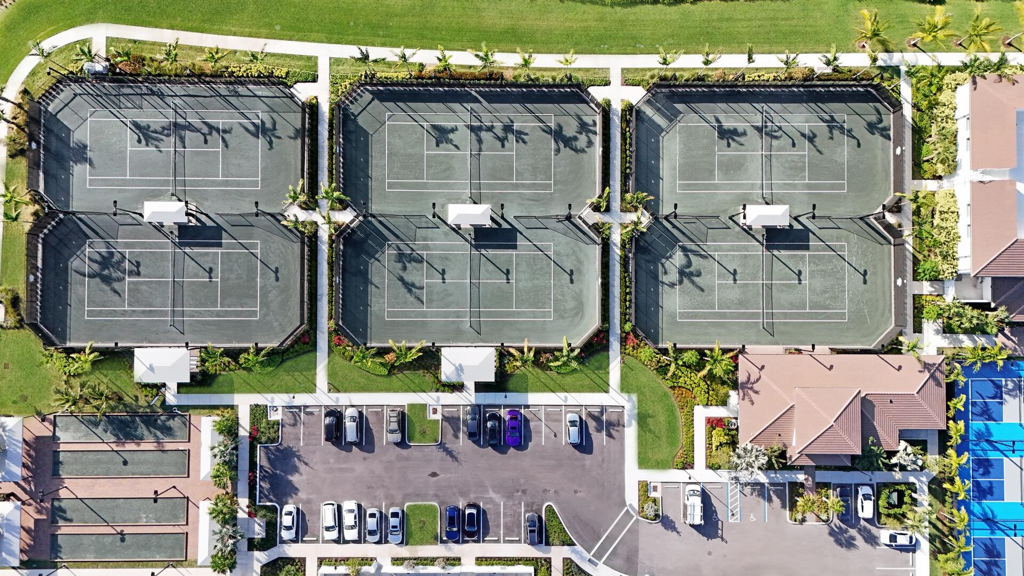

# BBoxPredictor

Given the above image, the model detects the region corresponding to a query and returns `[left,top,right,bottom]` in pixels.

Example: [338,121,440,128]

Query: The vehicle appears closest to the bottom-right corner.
[880,531,917,548]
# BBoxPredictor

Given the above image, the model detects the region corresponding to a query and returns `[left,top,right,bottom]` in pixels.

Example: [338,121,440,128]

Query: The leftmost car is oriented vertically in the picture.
[279,505,296,540]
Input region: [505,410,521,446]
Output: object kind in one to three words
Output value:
car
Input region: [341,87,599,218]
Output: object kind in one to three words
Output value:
tennis court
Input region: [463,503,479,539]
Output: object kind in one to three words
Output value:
car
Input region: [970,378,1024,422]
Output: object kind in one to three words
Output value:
sports court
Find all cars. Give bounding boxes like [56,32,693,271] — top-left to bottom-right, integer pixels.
[566,413,582,446]
[321,503,338,540]
[485,412,500,446]
[364,509,380,543]
[344,408,359,443]
[838,488,854,522]
[857,487,875,520]
[386,508,402,544]
[464,406,479,441]
[524,512,540,546]
[463,503,479,539]
[321,408,338,443]
[279,505,296,540]
[880,531,917,548]
[505,410,521,446]
[444,506,460,541]
[385,409,401,443]
[341,502,358,541]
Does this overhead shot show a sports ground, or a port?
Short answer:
sports ground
